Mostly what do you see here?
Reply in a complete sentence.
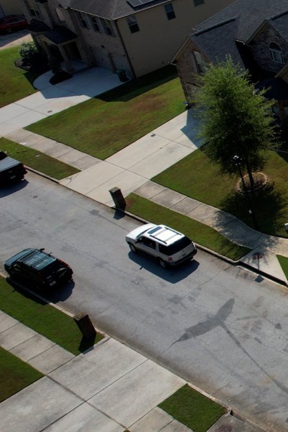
What you mostly see from above here is paved ground.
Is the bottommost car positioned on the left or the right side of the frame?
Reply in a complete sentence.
The bottommost car sits on the left side.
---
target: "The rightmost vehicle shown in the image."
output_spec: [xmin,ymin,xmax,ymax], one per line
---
[124,220,200,269]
